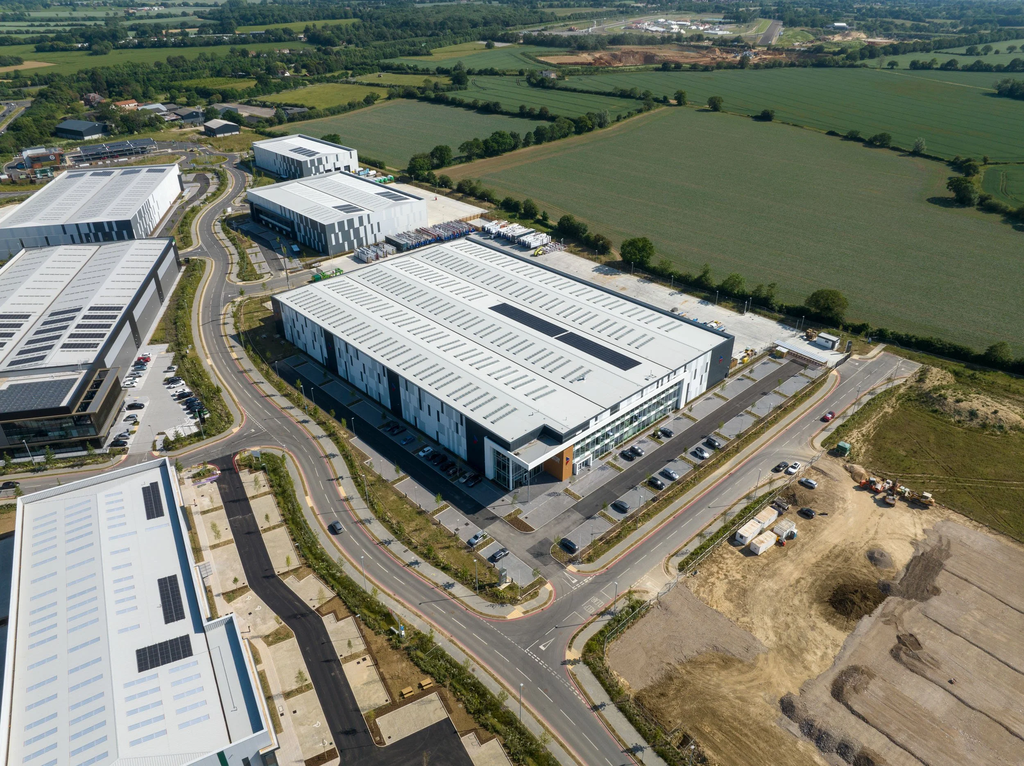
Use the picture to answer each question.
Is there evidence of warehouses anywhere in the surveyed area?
Yes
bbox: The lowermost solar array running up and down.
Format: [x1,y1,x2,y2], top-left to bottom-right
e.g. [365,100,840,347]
[158,575,185,625]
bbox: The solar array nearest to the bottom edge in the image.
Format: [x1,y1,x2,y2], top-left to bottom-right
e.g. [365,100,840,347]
[135,634,193,673]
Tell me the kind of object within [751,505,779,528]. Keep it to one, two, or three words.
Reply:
building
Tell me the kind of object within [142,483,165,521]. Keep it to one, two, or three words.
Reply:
solar array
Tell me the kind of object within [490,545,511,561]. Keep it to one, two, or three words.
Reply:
car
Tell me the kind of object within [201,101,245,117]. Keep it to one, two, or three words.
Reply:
barn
